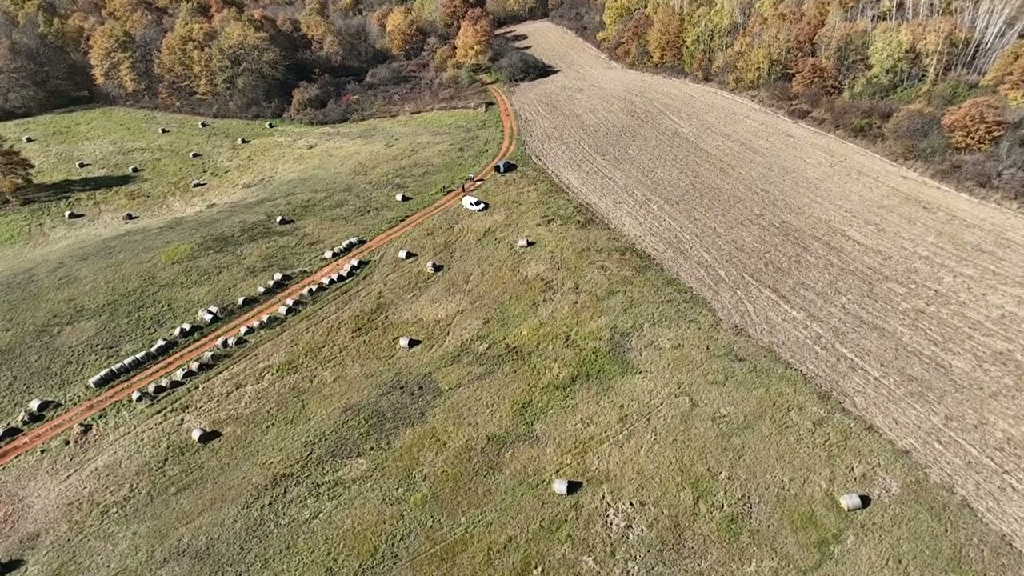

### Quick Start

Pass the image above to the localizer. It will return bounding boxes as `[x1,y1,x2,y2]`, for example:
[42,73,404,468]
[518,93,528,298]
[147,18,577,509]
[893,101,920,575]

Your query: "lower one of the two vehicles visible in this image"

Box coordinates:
[461,195,486,212]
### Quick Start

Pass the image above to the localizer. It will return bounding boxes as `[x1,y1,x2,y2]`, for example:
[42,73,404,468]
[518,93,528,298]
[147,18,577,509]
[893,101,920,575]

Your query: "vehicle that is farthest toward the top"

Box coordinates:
[497,159,511,175]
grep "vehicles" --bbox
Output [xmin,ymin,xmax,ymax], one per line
[461,195,486,212]
[497,159,511,175]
